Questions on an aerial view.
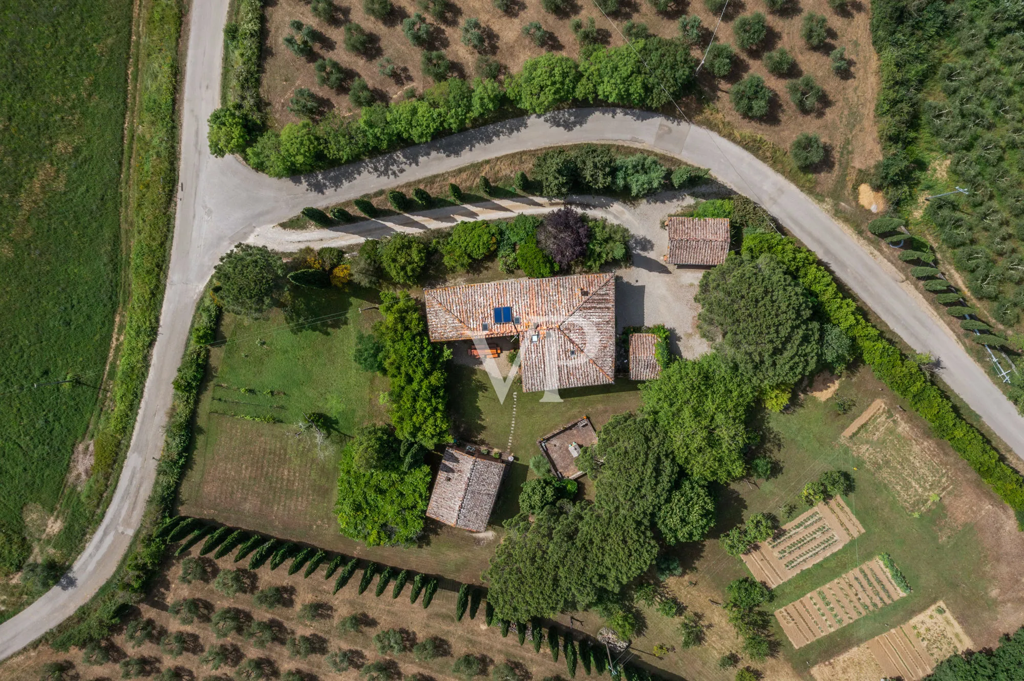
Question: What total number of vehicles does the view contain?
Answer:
0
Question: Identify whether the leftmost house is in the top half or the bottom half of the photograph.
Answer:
bottom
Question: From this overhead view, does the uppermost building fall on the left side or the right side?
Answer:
right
